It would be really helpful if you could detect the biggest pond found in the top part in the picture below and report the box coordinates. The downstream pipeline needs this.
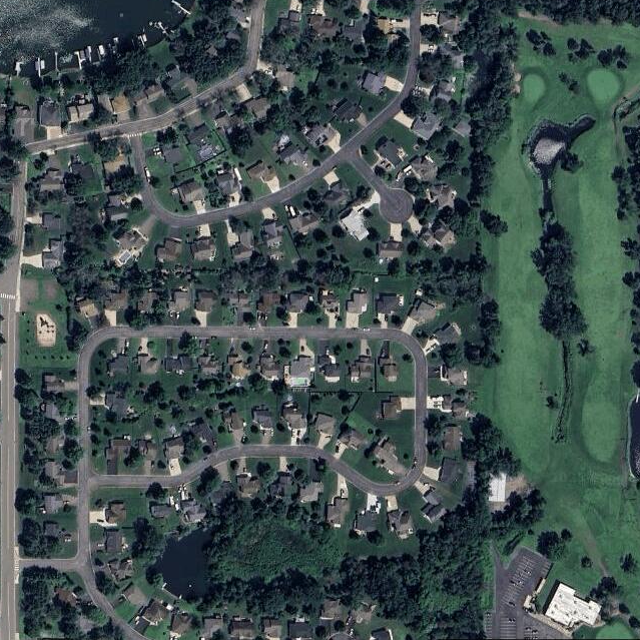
[531,116,595,213]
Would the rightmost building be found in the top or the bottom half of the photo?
bottom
